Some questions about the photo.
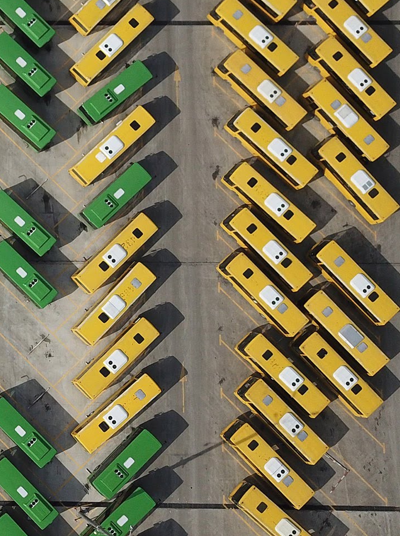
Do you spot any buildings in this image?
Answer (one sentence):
No, the scene contains no building.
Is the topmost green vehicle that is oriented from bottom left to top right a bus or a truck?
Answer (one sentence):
I'd say the topmost green vehicle that is oriented from bottom left to top right is a bus.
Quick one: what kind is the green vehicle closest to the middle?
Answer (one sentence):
From above, the green vehicle closest to the middle can be identified as a bus.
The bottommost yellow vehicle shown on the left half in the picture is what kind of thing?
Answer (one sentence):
The bottommost yellow vehicle shown on the left half is a bus.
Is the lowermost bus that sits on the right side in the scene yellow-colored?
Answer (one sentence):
Yes, yellow is the color of the lowermost bus that sits on the right side.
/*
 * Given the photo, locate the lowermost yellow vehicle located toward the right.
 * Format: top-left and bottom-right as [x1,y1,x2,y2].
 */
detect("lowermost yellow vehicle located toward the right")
[230,478,306,536]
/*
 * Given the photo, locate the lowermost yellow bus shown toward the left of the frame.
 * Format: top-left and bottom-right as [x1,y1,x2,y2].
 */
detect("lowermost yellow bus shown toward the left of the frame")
[70,369,164,451]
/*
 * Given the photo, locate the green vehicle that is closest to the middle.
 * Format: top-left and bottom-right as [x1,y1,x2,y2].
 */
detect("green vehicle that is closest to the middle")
[79,161,156,230]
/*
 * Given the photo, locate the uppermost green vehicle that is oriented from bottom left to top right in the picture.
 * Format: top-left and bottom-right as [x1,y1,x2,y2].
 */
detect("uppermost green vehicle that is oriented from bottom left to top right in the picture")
[78,60,156,126]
